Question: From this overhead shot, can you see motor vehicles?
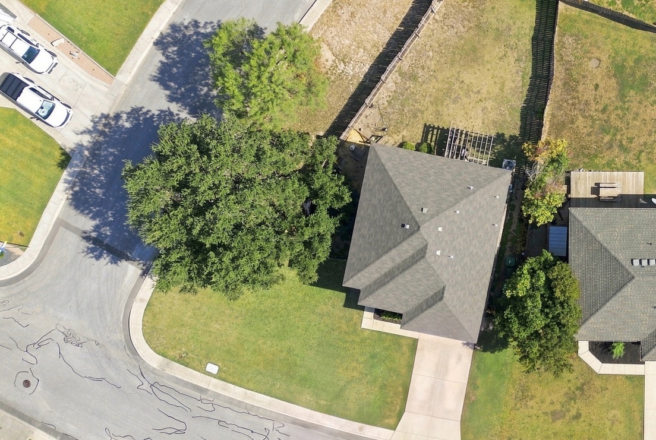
Yes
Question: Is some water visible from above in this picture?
No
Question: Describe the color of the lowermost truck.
white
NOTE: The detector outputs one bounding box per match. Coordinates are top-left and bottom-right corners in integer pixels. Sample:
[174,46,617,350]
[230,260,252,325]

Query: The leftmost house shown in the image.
[343,141,512,344]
